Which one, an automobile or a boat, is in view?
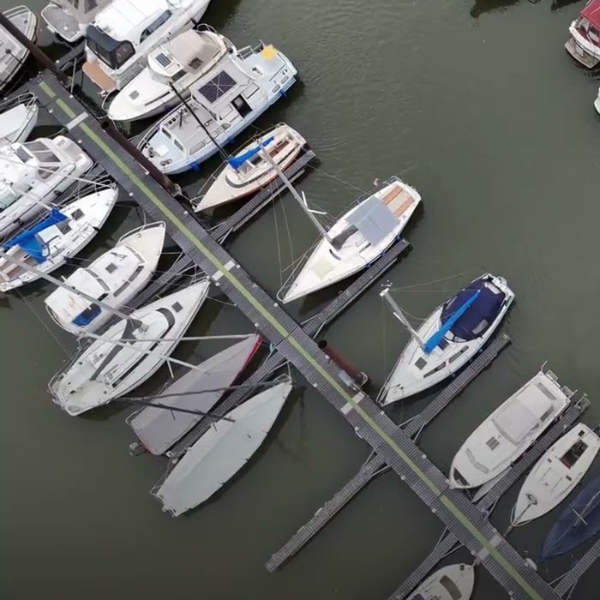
boat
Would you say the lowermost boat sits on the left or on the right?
right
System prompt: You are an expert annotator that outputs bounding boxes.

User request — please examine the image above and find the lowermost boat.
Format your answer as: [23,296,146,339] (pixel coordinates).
[403,560,480,600]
